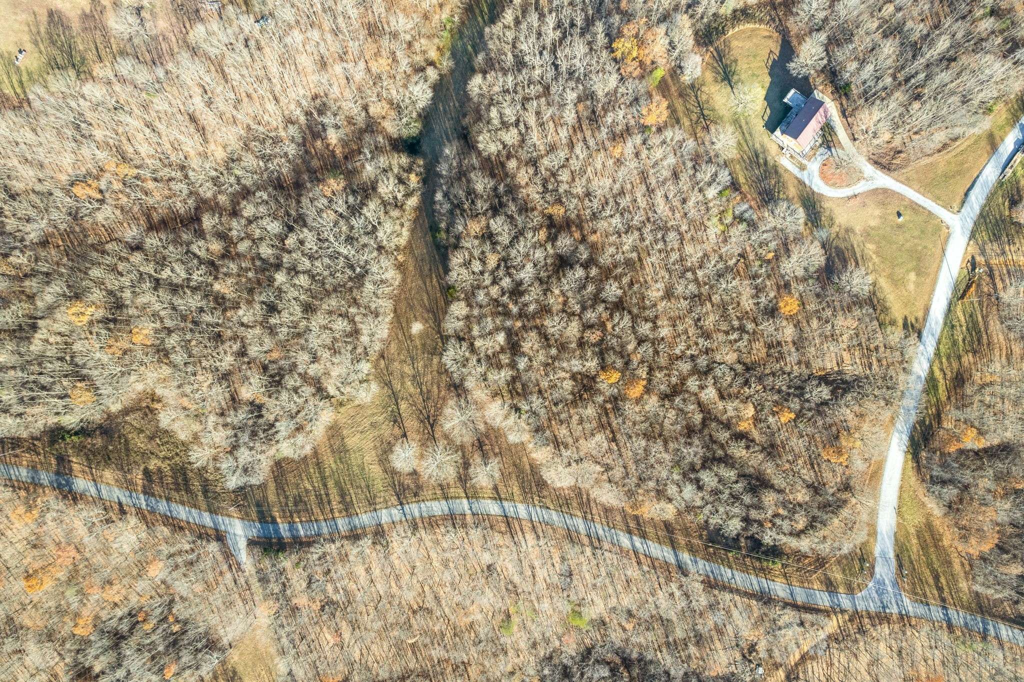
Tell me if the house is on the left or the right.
right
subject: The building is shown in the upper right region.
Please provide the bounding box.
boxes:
[764,86,830,167]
